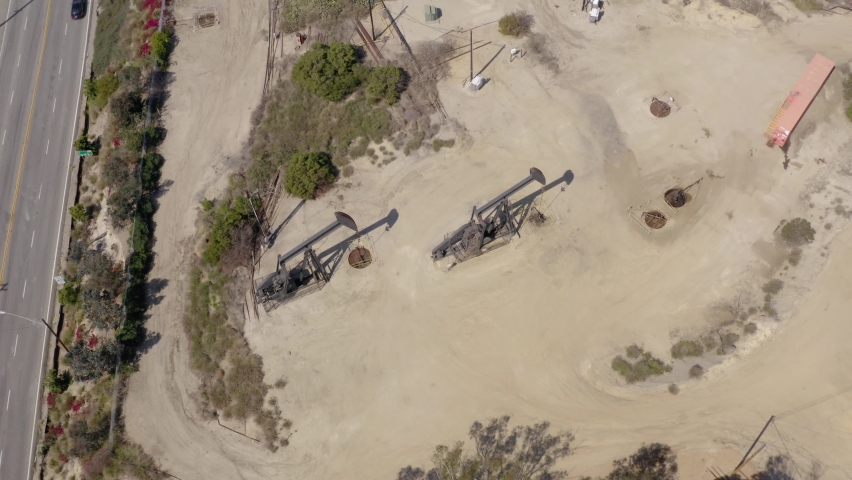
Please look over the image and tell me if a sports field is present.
No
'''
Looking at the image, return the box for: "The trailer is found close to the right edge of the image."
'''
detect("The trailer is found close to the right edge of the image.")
[758,54,838,154]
